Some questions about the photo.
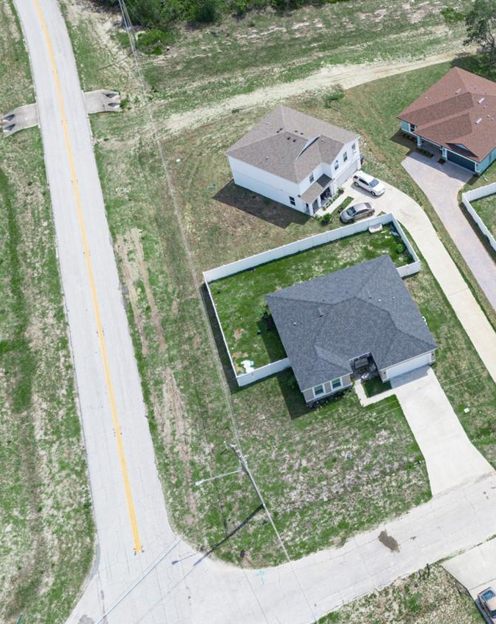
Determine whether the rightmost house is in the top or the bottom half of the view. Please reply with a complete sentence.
The rightmost house sits in the top half of the picture.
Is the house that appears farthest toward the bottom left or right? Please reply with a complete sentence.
It is on the right.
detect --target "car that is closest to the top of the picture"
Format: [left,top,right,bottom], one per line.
[351,169,386,195]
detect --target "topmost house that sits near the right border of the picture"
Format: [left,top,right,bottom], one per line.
[397,68,496,176]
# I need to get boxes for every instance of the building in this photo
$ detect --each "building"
[225,107,361,218]
[397,68,496,176]
[267,255,438,401]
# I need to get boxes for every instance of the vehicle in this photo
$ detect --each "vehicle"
[351,169,386,195]
[338,201,377,221]
[472,582,496,624]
